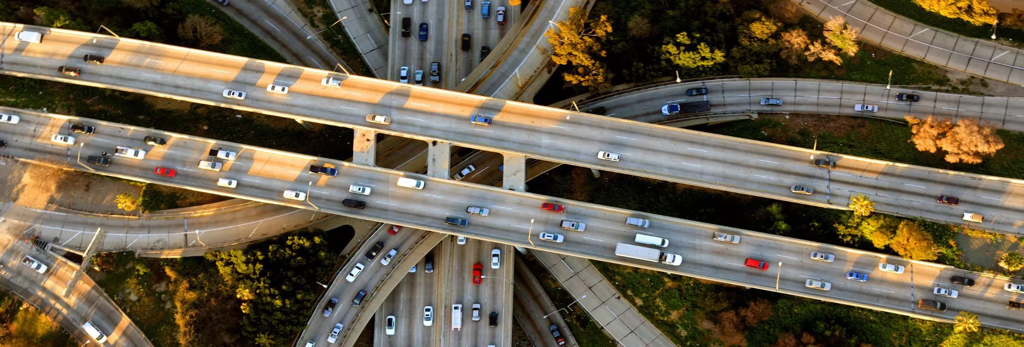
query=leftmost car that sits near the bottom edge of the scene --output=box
[80,317,109,346]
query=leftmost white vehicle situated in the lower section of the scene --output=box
[19,253,50,275]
